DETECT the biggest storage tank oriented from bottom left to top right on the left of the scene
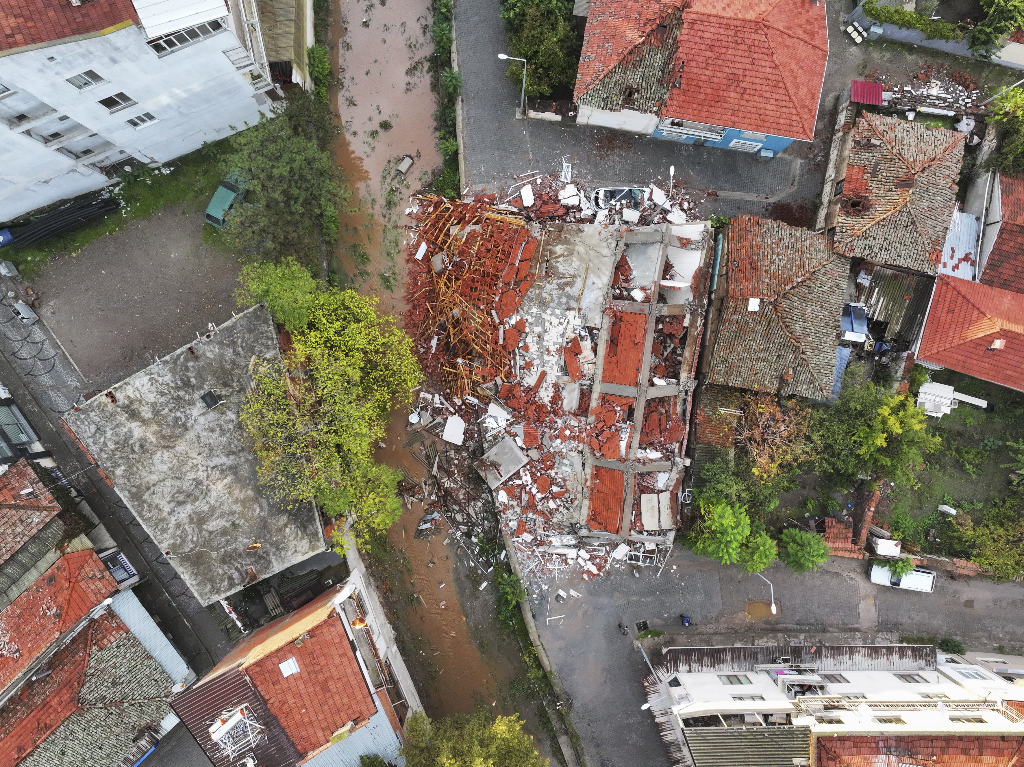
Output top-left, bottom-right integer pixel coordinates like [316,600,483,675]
[210,708,244,743]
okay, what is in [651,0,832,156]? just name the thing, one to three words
house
